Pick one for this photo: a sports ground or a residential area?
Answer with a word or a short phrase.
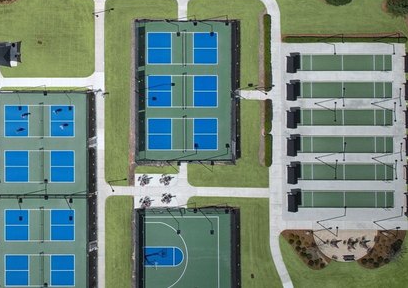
sports ground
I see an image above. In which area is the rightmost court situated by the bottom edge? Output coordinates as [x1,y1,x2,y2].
[134,208,233,288]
